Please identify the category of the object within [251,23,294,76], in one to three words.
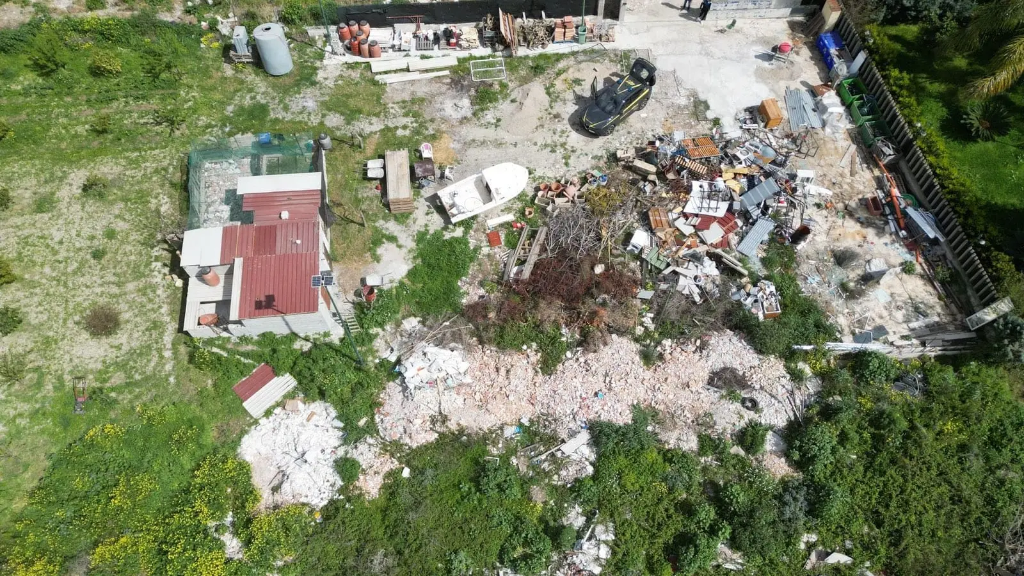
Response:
water tank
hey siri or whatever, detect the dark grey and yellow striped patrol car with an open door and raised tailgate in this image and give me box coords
[577,52,664,139]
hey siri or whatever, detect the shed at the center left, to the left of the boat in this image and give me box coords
[181,172,331,339]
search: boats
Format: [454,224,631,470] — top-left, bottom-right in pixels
[437,169,526,228]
